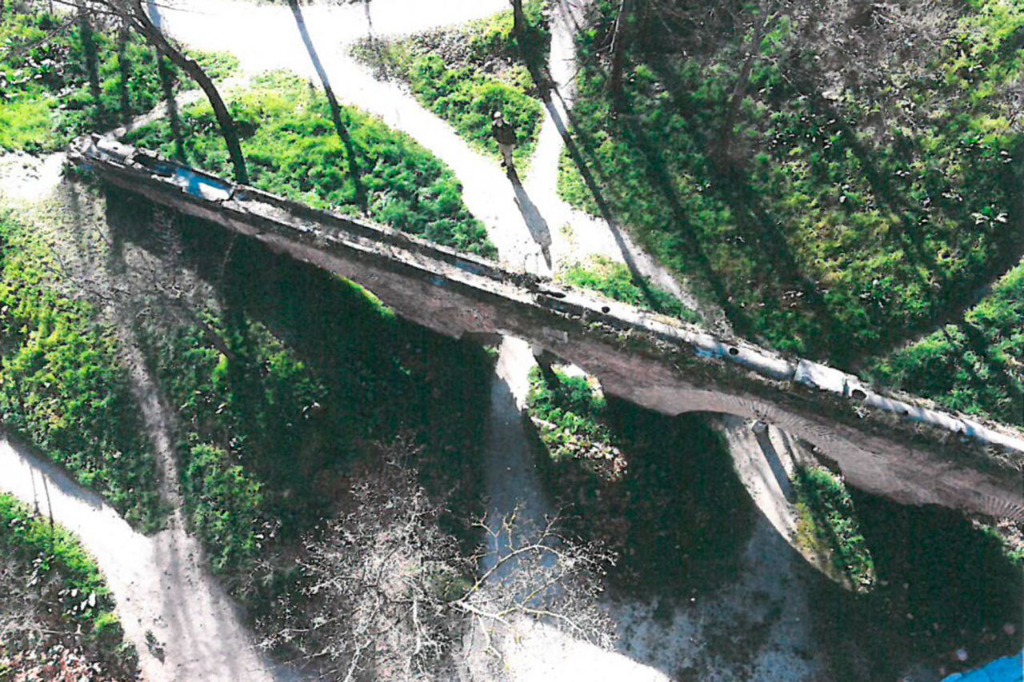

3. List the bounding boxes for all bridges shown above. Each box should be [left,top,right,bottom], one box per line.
[64,127,1024,521]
